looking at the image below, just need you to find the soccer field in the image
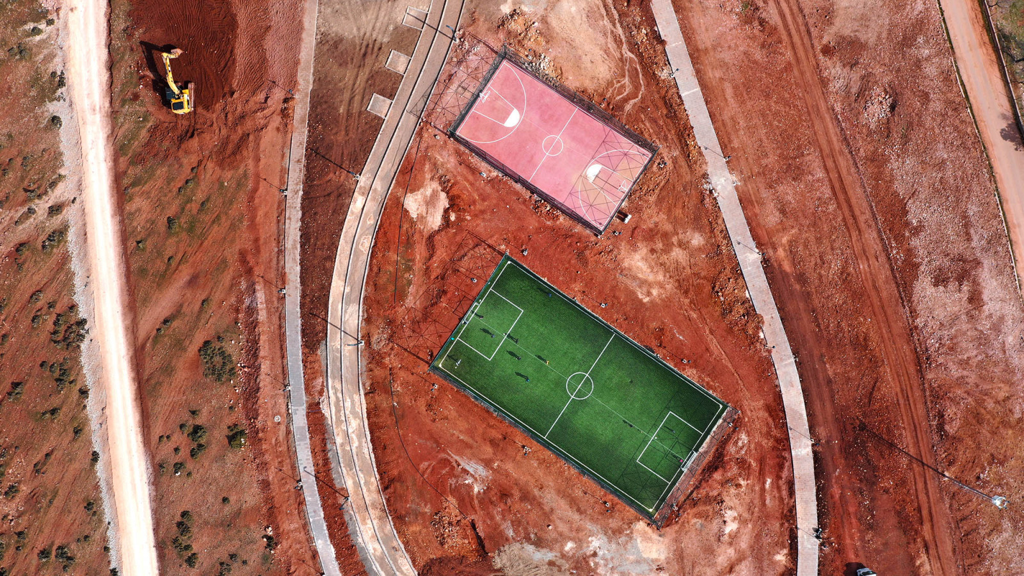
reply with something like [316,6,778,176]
[430,253,731,519]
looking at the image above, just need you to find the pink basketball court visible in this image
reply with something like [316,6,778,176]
[452,53,657,235]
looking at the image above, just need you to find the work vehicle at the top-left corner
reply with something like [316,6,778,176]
[163,51,197,115]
